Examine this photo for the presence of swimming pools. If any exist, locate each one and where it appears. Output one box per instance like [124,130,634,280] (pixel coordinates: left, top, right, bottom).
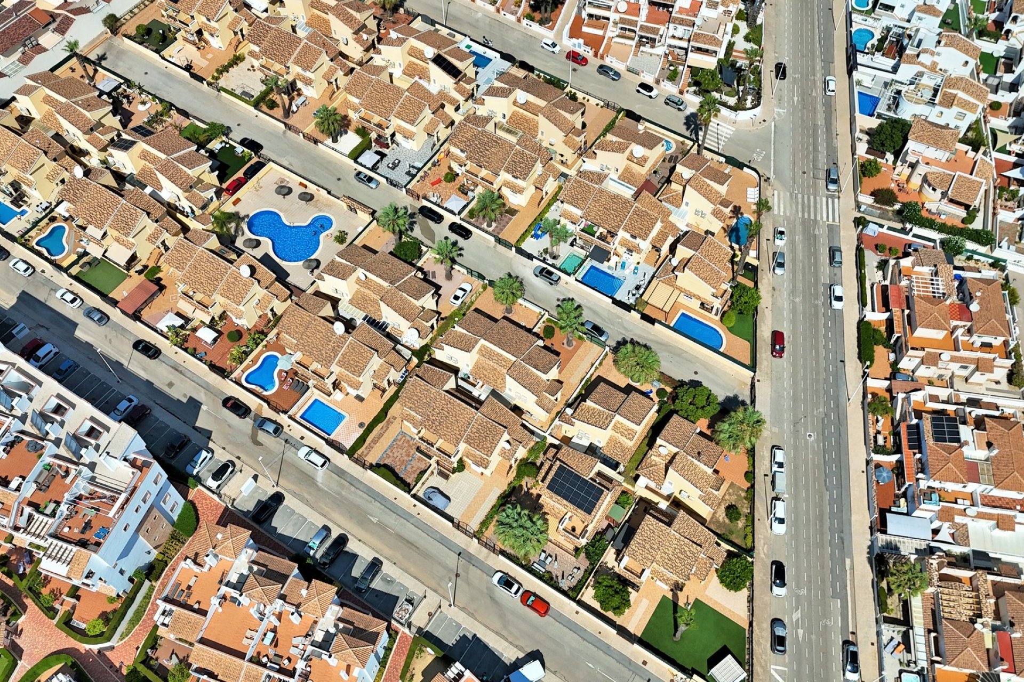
[33,223,69,259]
[0,198,31,227]
[726,214,756,248]
[468,48,494,69]
[853,0,872,9]
[663,137,675,153]
[242,208,336,265]
[558,249,584,272]
[296,396,349,439]
[858,91,882,117]
[853,27,876,53]
[579,262,628,298]
[672,314,725,349]
[249,352,279,394]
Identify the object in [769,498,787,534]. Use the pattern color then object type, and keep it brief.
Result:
white car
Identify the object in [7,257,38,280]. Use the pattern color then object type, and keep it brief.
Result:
white car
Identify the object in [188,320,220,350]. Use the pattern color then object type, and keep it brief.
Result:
white gazebo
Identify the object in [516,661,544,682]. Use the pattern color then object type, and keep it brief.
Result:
white vehicle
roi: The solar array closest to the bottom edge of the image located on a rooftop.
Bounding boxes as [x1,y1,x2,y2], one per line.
[546,464,604,515]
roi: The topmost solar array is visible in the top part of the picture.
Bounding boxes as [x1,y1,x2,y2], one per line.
[431,53,463,79]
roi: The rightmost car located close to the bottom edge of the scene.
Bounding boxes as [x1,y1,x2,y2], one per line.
[841,644,861,682]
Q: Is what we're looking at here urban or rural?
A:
urban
